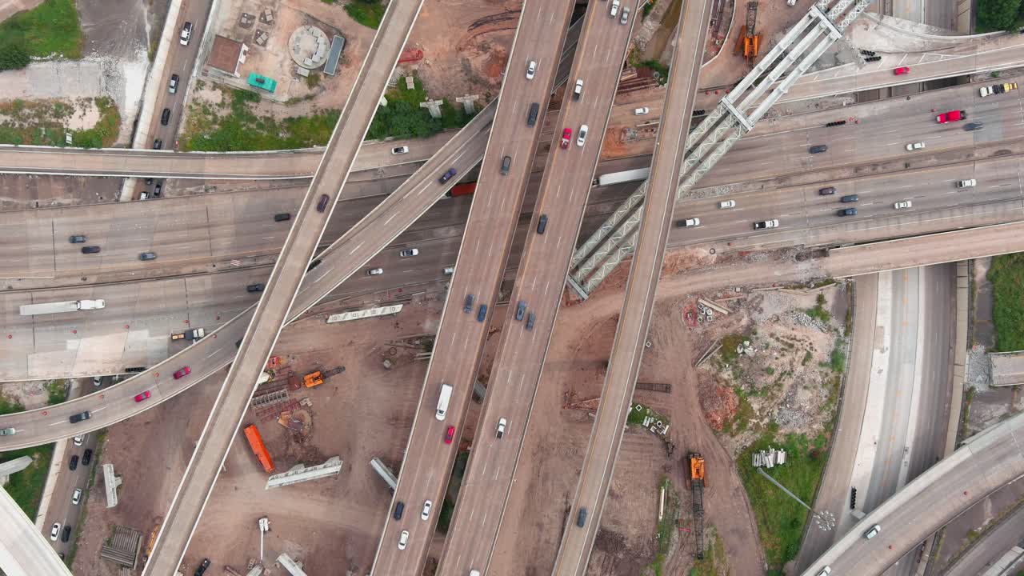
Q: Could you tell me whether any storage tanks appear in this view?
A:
No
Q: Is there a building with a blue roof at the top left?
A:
No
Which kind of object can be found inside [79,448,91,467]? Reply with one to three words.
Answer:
vehicle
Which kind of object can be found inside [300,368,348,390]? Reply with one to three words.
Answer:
crane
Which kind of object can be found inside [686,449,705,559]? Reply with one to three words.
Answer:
crane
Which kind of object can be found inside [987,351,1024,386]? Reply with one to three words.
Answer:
bridge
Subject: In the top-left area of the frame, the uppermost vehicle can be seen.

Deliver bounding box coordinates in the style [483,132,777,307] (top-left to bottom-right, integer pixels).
[178,20,191,43]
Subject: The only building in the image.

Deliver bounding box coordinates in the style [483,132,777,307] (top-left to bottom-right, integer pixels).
[207,35,252,79]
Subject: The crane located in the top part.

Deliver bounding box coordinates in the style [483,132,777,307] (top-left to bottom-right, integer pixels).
[732,0,762,61]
